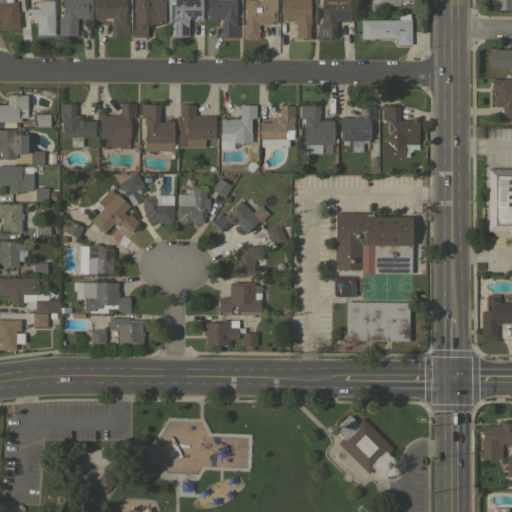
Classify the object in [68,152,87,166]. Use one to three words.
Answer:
swimming pool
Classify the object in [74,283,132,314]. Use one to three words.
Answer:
house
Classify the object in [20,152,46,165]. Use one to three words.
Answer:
building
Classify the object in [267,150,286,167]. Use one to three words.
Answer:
swimming pool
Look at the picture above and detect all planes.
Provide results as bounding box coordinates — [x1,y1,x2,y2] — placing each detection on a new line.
[170,438,191,462]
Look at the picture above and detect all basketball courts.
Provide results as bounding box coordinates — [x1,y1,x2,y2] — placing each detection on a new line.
[362,274,412,300]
